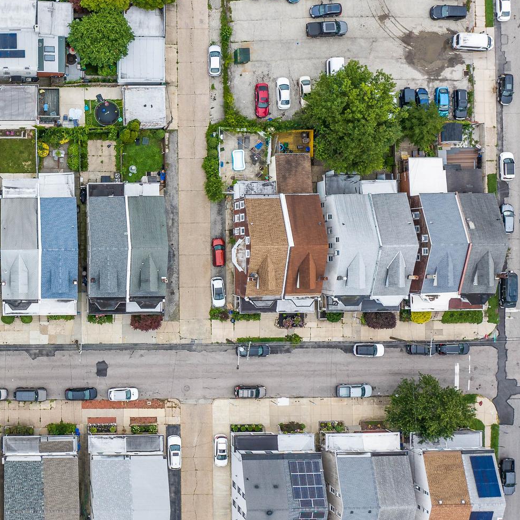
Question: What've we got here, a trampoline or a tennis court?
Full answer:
This aerial view contains a trampoline.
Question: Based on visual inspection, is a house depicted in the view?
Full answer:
Yes, this view includes a house.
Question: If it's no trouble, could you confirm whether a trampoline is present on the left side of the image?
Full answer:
Yes, a trampoline shows up on the left side of the image.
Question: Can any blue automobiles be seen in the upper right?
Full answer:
Yes, a blue automobile shows up in the upper right.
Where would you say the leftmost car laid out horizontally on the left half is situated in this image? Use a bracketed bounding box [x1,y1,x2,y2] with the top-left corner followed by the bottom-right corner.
[14,387,47,403]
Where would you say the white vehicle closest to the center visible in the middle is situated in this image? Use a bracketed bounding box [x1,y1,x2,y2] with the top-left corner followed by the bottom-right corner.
[211,277,227,307]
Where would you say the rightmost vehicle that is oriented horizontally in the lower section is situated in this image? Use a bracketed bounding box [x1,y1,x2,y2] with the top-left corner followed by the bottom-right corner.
[436,342,469,358]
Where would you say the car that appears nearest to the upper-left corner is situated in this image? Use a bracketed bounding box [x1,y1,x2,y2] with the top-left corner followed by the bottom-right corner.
[207,45,223,75]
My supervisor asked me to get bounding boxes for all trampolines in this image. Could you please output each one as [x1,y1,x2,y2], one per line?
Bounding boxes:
[94,99,121,125]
